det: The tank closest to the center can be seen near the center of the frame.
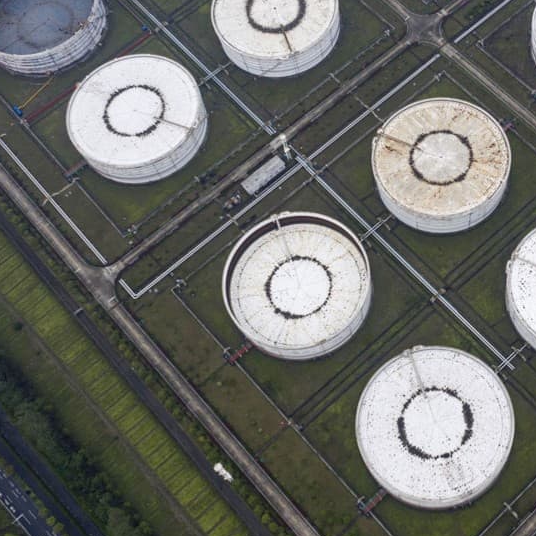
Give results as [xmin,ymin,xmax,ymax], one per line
[220,209,375,362]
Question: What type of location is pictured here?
industrial area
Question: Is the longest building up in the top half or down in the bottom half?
top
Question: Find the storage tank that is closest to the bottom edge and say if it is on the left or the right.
right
